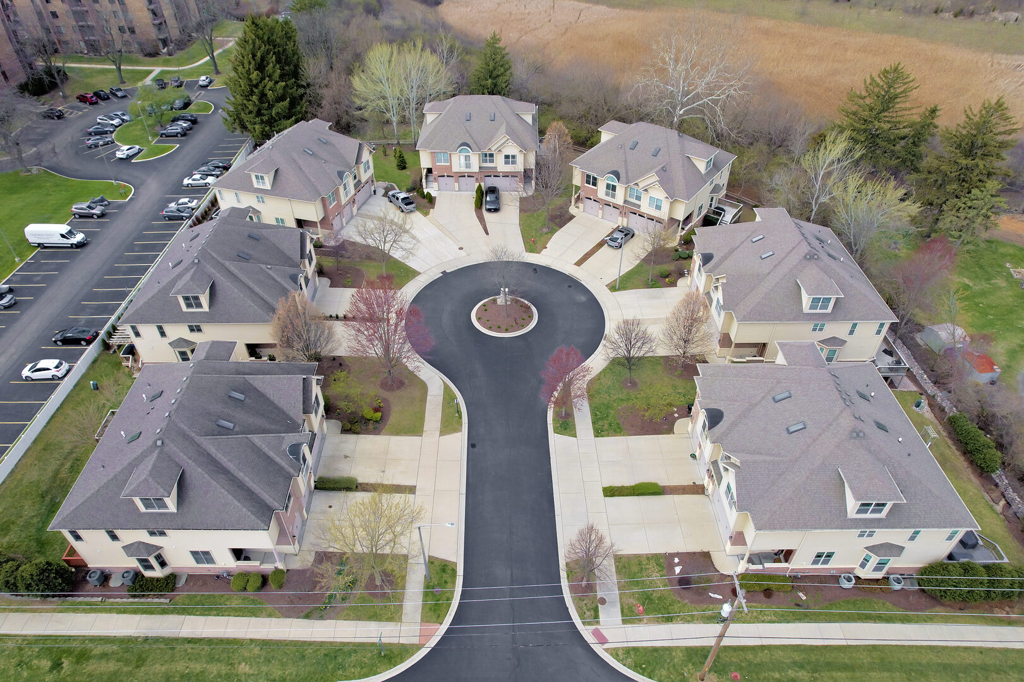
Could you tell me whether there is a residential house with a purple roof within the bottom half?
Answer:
No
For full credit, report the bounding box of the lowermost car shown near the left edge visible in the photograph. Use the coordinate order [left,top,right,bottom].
[16,356,70,379]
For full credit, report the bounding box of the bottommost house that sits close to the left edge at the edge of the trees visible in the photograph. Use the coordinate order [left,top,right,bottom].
[49,348,335,582]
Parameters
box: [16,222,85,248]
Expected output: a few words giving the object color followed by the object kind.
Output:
white vehicle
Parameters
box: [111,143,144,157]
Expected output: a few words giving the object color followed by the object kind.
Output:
white car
